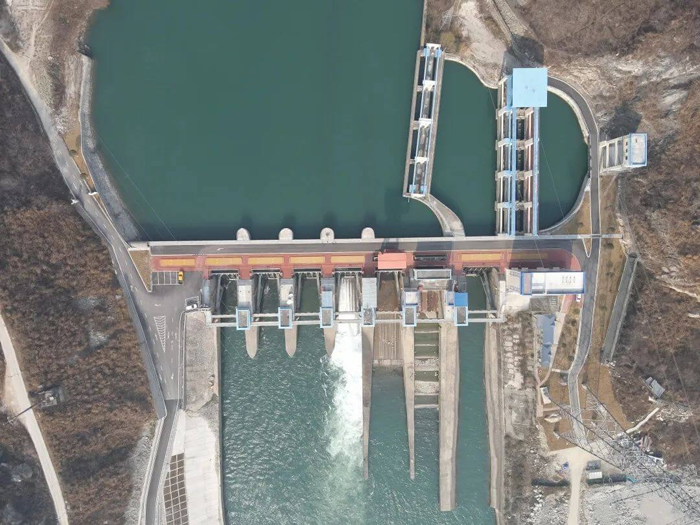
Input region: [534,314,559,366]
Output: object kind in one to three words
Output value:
house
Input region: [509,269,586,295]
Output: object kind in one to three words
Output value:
building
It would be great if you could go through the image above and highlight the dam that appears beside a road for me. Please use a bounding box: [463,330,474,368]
[128,228,622,511]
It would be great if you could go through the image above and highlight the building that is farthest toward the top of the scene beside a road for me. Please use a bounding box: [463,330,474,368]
[497,68,547,108]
